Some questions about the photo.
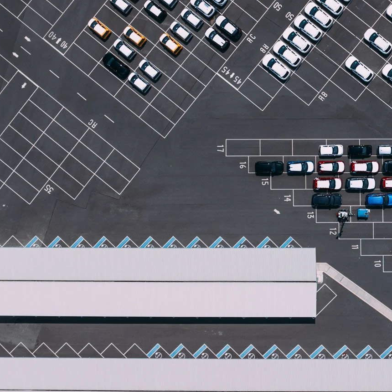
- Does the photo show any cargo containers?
No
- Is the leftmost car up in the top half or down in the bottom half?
top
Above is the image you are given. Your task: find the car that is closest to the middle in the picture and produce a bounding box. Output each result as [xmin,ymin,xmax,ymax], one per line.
[254,160,284,175]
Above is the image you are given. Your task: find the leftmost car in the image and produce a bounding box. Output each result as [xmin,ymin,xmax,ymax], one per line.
[89,18,112,40]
